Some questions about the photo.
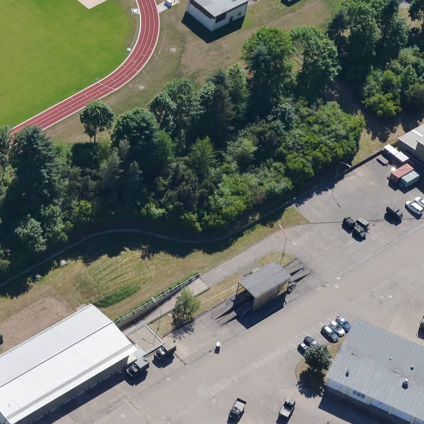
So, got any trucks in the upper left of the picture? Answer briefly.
No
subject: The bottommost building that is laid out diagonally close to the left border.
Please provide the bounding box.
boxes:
[0,302,146,424]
